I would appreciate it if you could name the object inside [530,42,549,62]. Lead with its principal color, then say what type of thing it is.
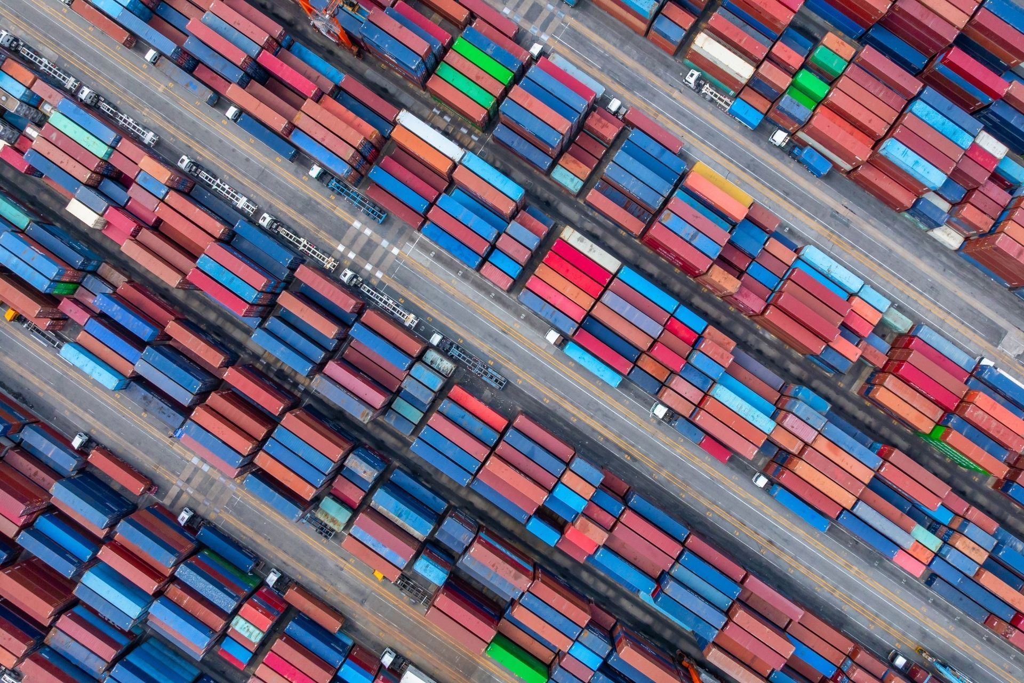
white vehicle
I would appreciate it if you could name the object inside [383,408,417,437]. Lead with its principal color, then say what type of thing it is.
blue shipping container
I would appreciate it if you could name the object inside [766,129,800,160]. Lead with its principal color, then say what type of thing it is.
white truck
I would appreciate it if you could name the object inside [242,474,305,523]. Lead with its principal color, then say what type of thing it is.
blue shipping container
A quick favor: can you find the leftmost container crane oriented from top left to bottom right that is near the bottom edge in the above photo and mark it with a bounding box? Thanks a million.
[671,646,727,683]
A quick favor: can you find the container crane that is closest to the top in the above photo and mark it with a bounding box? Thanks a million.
[294,0,373,58]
